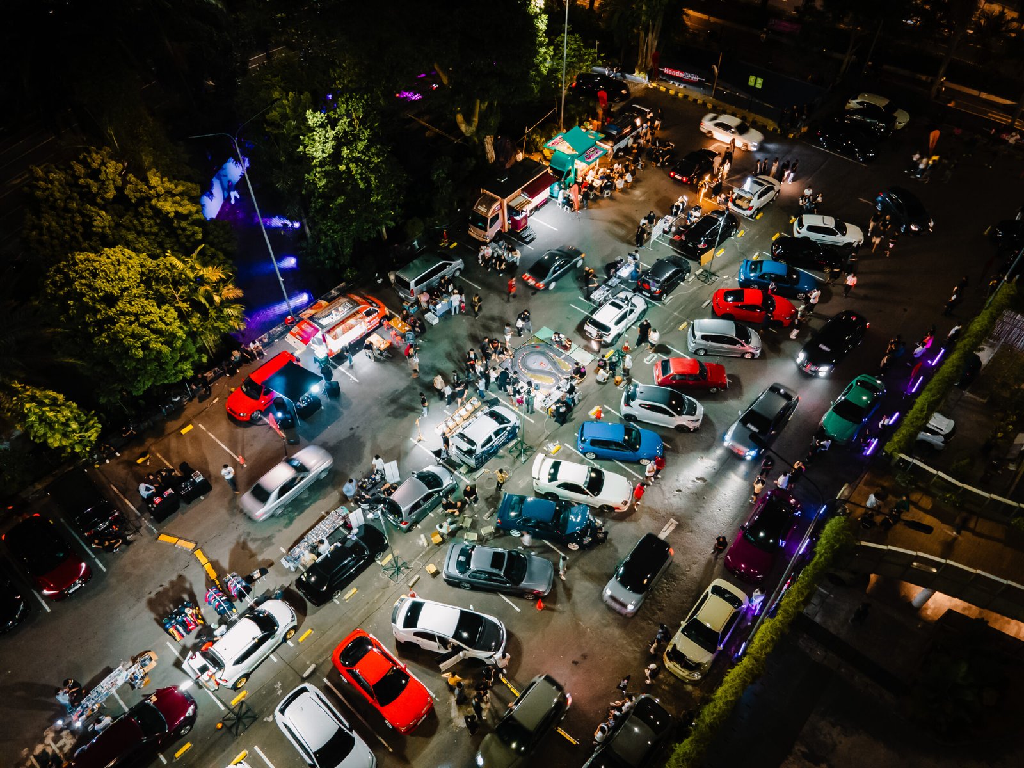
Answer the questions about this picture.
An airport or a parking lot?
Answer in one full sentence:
What you see here is a parking lot.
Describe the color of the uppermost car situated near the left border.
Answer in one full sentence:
The uppermost car situated near the left border is black.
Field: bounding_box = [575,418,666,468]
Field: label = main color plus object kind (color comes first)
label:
blue car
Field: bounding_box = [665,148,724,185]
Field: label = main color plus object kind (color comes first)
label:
black car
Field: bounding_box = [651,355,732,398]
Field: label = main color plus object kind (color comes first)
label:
red car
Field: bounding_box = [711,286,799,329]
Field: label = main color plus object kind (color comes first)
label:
red car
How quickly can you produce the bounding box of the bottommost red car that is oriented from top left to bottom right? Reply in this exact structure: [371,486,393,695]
[327,623,434,740]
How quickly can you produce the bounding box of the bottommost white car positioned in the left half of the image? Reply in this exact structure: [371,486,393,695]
[270,672,385,768]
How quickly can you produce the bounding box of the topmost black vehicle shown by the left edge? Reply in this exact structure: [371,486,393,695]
[36,465,121,545]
